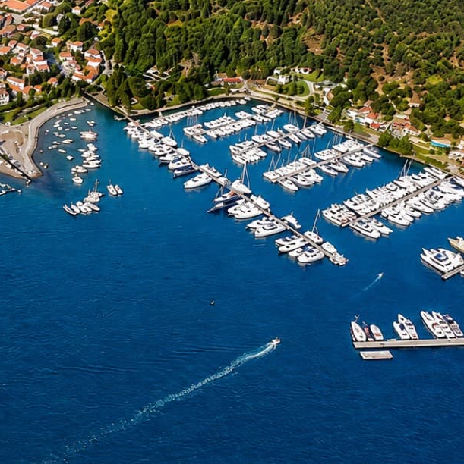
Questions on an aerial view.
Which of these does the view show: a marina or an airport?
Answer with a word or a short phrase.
marina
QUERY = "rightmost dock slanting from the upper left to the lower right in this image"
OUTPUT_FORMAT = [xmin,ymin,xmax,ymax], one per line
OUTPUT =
[115,108,347,262]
